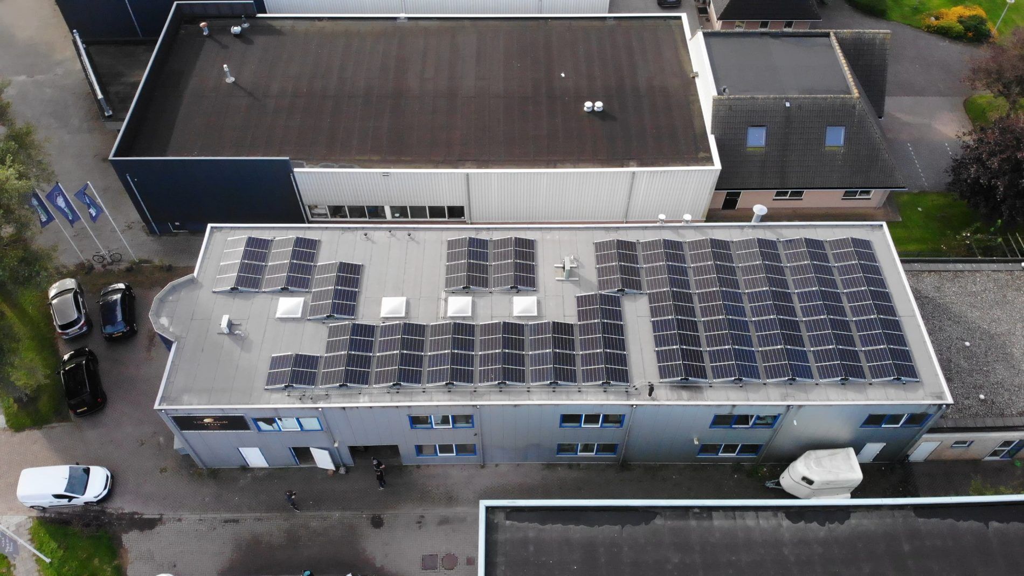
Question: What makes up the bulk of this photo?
buildings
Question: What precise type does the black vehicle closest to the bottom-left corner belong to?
car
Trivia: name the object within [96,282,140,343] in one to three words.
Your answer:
car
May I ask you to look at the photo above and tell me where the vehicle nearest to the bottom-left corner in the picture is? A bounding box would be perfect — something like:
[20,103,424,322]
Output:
[10,456,114,507]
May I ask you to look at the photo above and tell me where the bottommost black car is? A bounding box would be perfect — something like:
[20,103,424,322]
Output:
[59,342,111,418]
